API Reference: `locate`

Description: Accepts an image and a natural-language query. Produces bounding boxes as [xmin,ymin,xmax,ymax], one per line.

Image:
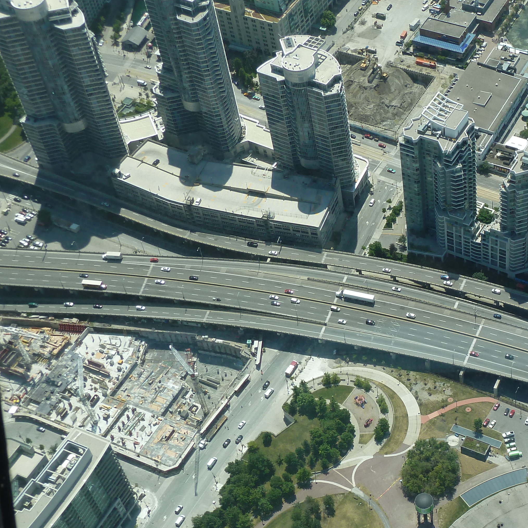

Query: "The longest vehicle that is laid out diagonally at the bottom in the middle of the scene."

[199,416,228,445]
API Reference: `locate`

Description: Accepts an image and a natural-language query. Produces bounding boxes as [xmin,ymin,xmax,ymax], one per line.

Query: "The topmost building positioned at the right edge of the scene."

[439,0,509,35]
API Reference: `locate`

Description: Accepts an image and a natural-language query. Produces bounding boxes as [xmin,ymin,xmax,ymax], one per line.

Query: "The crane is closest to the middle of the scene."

[169,345,209,420]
